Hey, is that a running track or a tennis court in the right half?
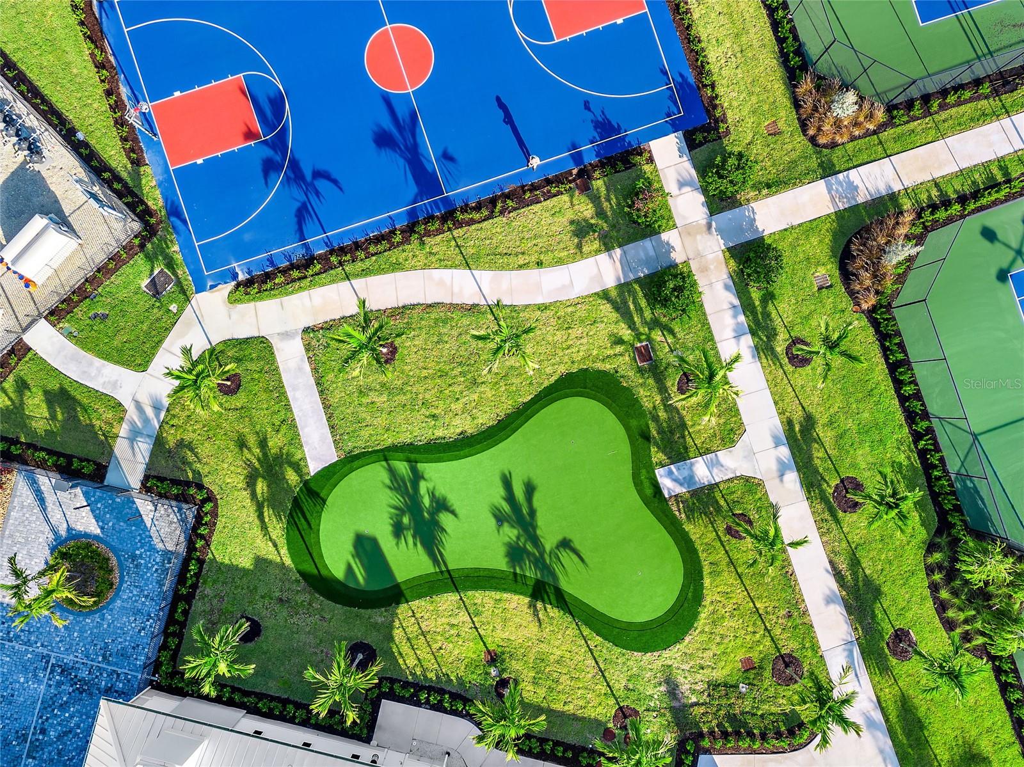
tennis court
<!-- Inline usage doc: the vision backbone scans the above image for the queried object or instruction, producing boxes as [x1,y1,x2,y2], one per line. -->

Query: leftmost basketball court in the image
[93,0,709,294]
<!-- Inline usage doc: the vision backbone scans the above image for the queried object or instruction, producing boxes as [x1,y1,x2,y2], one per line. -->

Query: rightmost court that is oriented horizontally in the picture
[788,0,1024,103]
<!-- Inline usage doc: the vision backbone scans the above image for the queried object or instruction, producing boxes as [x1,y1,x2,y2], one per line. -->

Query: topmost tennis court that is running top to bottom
[894,199,1024,549]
